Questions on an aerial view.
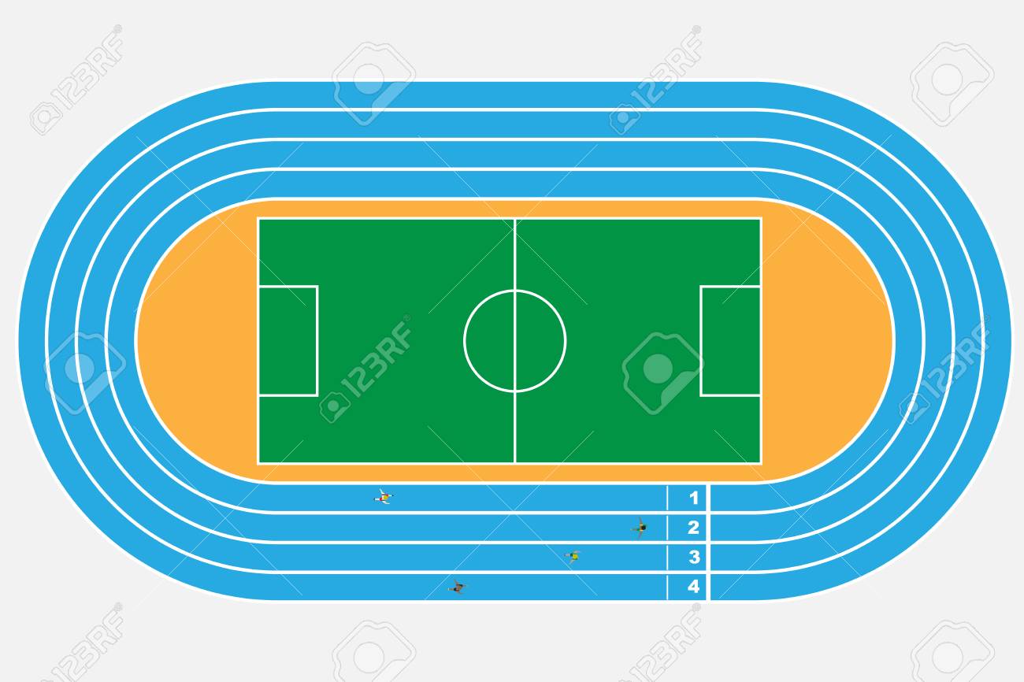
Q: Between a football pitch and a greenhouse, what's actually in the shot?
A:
football pitch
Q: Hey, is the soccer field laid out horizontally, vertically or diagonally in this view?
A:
horizontally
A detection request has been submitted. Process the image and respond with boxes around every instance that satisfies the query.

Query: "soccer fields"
[257,217,762,465]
